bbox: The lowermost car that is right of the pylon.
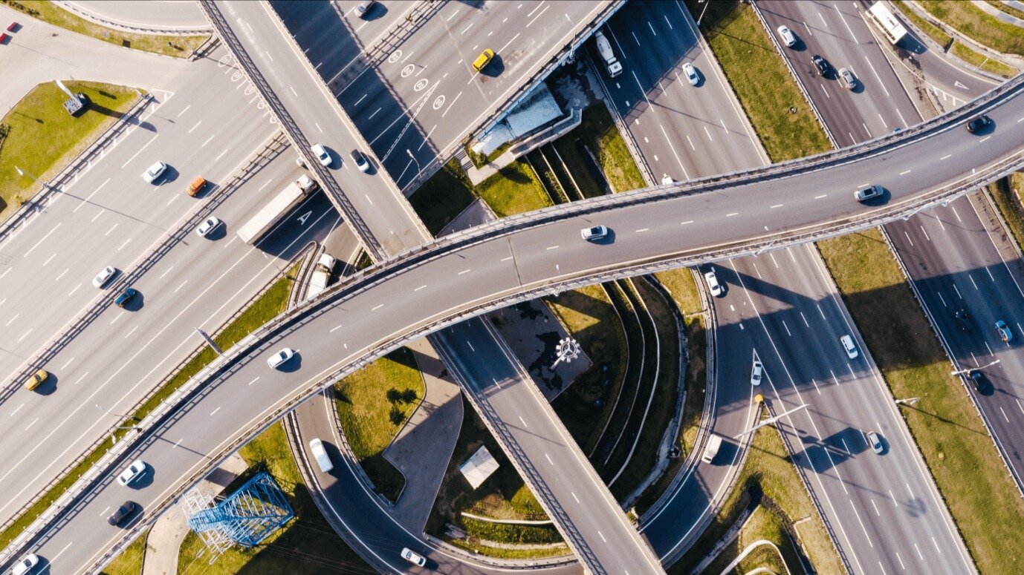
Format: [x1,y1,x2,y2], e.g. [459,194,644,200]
[400,547,426,567]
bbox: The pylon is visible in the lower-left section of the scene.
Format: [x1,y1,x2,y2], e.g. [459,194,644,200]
[175,474,295,562]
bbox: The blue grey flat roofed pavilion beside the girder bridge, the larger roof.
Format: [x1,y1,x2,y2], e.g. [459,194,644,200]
[507,82,563,136]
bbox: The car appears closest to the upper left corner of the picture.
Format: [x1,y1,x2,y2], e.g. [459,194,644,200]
[142,160,167,184]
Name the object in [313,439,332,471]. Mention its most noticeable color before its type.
white vehicle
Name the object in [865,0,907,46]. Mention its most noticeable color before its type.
white bus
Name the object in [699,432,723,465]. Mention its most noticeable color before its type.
white truck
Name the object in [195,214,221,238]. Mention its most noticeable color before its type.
white car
